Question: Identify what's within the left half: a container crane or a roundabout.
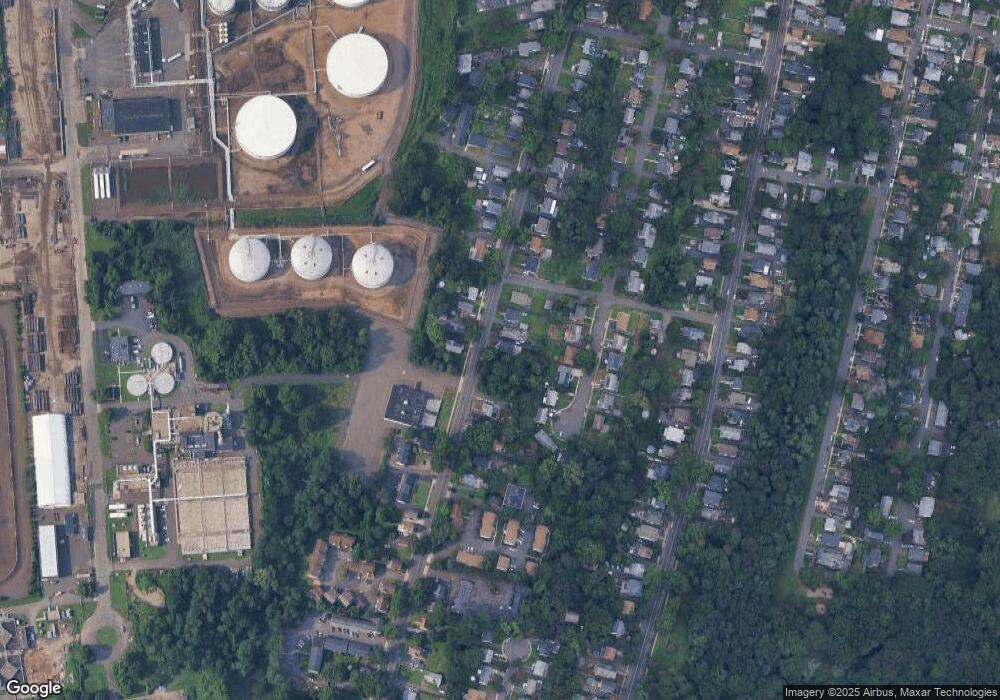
roundabout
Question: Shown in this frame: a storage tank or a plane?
storage tank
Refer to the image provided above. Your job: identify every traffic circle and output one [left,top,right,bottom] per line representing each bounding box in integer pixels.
[80,597,130,661]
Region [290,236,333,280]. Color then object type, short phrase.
white storage tank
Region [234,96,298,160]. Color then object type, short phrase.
white storage tank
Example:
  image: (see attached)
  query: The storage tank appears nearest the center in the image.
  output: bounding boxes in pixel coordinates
[352,243,395,287]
